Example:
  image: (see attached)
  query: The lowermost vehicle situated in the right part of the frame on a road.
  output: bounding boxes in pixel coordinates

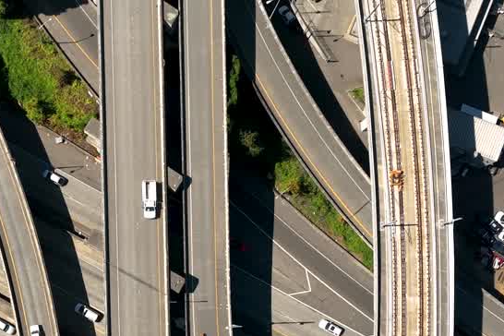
[317,319,343,336]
